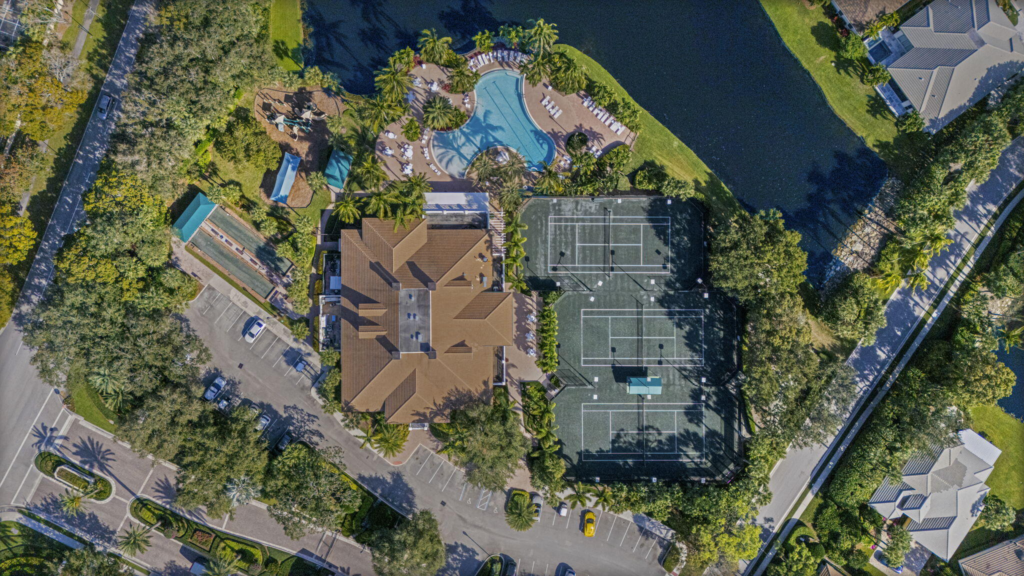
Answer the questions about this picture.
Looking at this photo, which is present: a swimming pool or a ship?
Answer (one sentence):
I can see a swimming pool in this picture.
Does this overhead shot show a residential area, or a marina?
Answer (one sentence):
This image shows a residential area.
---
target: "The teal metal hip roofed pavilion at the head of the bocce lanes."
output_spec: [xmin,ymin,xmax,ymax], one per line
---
[175,192,219,243]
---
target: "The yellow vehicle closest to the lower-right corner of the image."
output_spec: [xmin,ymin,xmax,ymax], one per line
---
[584,511,596,537]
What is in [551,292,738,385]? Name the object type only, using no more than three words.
tennis court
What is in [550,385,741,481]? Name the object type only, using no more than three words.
tennis court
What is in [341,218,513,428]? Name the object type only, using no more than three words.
building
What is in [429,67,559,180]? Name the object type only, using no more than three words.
swimming pool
